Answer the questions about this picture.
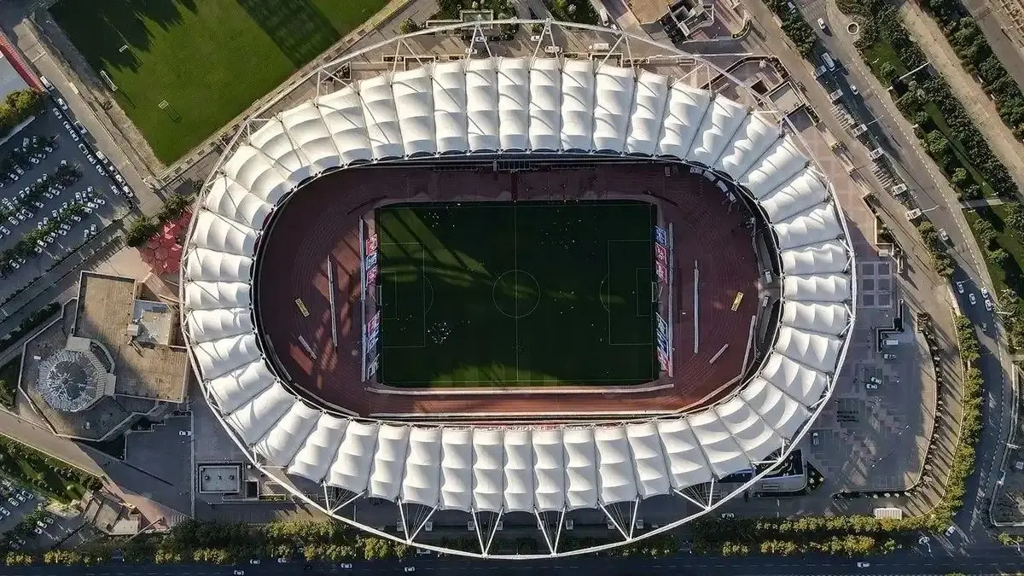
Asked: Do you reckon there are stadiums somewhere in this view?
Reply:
Yes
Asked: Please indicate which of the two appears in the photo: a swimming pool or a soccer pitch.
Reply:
soccer pitch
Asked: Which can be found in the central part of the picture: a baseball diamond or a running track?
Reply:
running track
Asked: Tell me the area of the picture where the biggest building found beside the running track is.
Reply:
left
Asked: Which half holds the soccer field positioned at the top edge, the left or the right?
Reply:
left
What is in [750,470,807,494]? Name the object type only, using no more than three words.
building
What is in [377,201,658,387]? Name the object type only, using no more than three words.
soccer field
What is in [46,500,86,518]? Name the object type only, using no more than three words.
shed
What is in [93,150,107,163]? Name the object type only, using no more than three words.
vehicle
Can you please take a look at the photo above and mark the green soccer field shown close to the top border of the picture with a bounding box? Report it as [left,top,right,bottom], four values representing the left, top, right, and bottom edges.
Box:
[49,0,388,164]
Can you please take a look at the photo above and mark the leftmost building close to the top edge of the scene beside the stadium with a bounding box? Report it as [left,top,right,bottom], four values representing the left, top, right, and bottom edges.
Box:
[462,10,492,30]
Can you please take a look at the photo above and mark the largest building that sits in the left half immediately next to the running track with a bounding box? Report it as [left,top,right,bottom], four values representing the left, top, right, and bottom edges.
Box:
[69,270,195,404]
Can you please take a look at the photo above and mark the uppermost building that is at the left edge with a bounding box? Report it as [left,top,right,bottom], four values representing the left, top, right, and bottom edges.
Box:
[0,32,48,108]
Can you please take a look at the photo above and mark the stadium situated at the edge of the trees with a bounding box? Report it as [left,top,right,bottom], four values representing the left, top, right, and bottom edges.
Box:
[178,18,856,558]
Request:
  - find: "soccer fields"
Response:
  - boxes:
[377,201,658,387]
[49,0,388,164]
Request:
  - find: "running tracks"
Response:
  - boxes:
[257,158,764,421]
